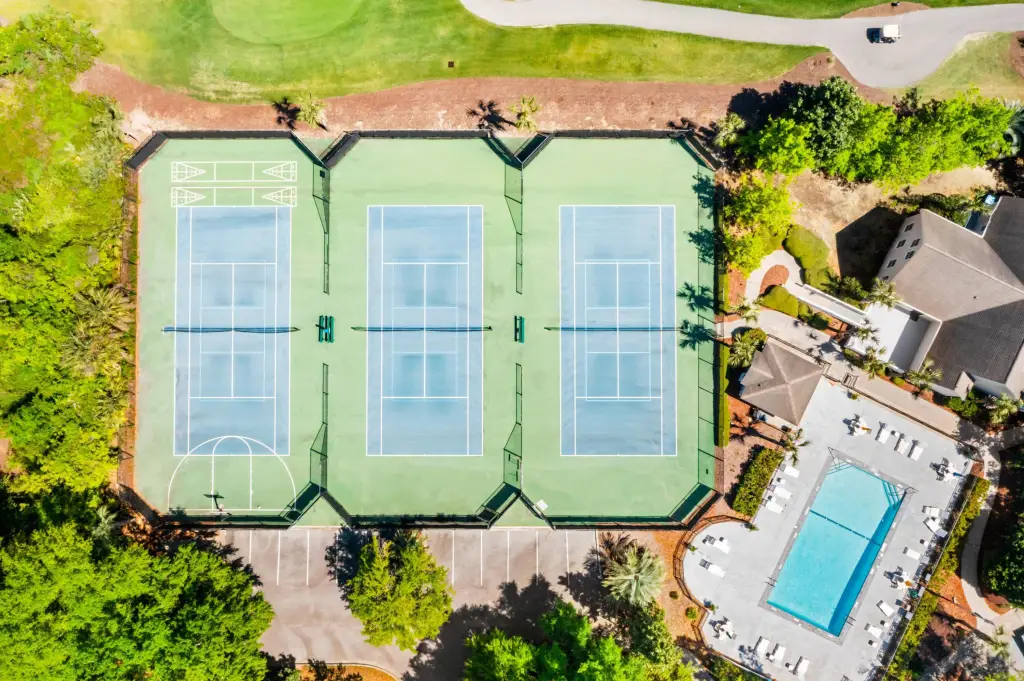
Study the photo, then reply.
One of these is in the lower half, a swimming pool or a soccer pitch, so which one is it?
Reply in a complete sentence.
The feature located in the lower half is a swimming pool.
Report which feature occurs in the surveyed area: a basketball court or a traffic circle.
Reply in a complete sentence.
The image shows a basketball court.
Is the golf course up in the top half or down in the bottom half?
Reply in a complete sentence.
You can find the golf course in the top half.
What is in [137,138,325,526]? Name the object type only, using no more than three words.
tennis court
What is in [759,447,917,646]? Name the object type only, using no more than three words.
swimming pool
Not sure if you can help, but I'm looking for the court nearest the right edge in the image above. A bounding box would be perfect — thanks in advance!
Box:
[521,138,715,526]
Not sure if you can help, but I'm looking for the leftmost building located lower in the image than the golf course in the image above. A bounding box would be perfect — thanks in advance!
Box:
[729,343,825,427]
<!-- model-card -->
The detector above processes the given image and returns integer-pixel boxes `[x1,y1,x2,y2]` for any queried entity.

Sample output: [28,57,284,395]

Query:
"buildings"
[729,343,825,427]
[868,195,1024,402]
